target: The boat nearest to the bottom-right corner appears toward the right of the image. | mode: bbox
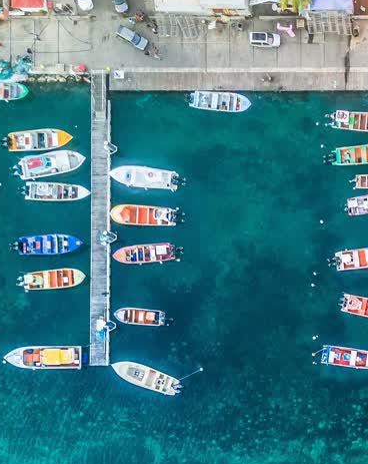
[320,345,368,369]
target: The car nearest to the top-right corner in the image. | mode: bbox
[250,30,281,49]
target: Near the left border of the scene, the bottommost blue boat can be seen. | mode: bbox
[12,233,89,254]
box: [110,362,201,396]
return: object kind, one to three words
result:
boat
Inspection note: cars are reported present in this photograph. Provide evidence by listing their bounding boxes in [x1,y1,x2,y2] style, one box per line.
[78,0,95,12]
[250,30,281,49]
[111,0,131,15]
[116,24,150,51]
